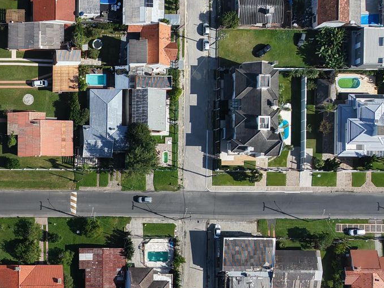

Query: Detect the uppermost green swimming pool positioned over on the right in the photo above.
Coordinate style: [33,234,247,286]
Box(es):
[336,75,363,90]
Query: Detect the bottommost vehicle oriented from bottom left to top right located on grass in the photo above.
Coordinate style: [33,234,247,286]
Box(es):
[255,45,272,57]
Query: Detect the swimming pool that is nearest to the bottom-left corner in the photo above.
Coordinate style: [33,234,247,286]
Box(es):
[147,250,170,262]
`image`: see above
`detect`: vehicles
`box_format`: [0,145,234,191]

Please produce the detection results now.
[202,38,211,53]
[214,224,222,239]
[136,196,154,203]
[32,80,49,87]
[255,45,272,57]
[202,21,211,37]
[297,29,307,47]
